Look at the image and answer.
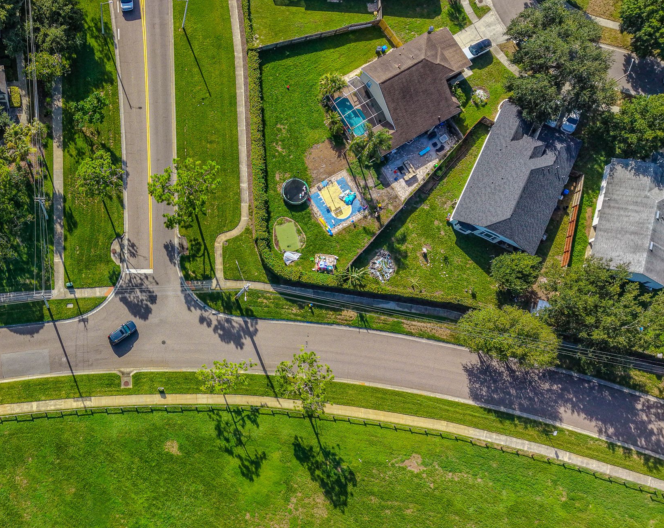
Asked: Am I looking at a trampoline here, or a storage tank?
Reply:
trampoline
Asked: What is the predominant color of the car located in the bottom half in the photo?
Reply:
blue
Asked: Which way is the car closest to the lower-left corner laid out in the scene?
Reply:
on a diagonal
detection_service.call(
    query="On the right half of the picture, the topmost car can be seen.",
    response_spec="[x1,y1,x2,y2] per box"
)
[463,38,495,61]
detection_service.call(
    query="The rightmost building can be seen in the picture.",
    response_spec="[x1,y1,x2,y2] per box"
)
[580,152,664,279]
